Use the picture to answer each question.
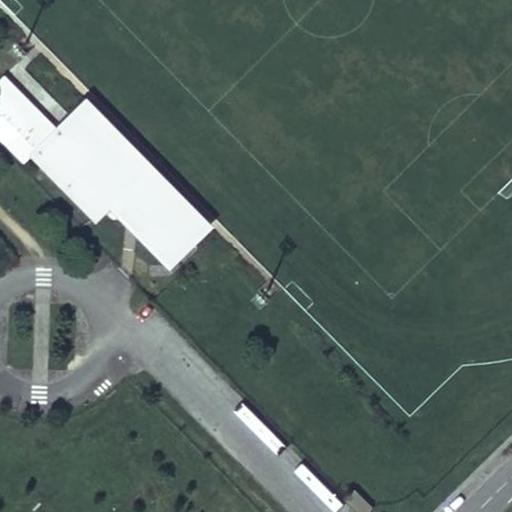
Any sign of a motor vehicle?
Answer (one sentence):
Yes, the frame does contain a motor vehicle.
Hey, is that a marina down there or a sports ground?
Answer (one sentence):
The area seen from above is a sports ground.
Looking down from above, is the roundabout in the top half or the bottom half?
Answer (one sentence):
The roundabout sits in the bottom half of the picture.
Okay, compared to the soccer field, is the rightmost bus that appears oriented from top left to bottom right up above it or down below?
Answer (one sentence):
In the image, the rightmost bus that appears oriented from top left to bottom right appears below the soccer field.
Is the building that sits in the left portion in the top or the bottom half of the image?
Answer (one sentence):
Seen from above, the building that sits in the left portion lies in the top half of the view.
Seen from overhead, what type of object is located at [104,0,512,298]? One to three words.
soccer field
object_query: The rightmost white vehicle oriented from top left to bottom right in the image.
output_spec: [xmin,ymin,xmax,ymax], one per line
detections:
[294,462,346,512]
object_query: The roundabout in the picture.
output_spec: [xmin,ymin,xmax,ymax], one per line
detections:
[0,257,151,410]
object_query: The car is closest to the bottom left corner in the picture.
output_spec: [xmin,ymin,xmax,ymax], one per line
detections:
[137,302,154,322]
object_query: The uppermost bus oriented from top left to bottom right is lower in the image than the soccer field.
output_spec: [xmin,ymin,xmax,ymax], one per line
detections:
[234,402,288,457]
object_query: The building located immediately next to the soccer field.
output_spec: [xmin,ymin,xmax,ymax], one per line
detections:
[0,75,212,270]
